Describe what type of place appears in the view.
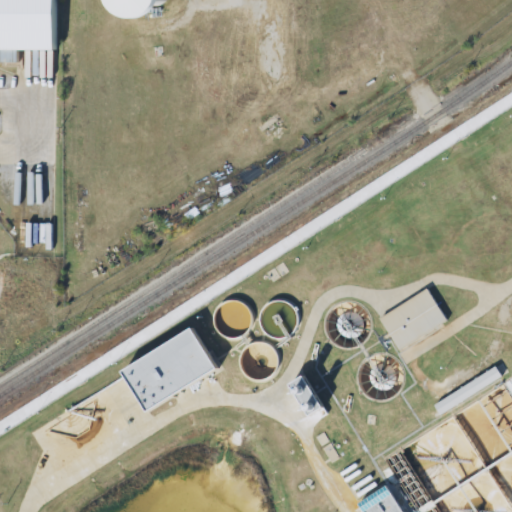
industrial area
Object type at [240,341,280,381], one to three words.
storage tank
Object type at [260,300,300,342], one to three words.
storage tank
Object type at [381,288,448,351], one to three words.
shed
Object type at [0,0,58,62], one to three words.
building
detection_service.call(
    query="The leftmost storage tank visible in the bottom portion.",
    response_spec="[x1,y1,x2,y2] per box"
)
[214,300,254,340]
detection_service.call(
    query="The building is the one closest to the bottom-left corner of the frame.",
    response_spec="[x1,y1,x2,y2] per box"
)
[120,328,218,410]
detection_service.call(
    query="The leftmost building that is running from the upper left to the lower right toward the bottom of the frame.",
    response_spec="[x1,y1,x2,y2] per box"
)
[289,375,330,416]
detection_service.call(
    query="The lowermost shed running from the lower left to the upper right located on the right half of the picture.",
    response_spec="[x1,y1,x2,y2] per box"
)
[434,368,502,420]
